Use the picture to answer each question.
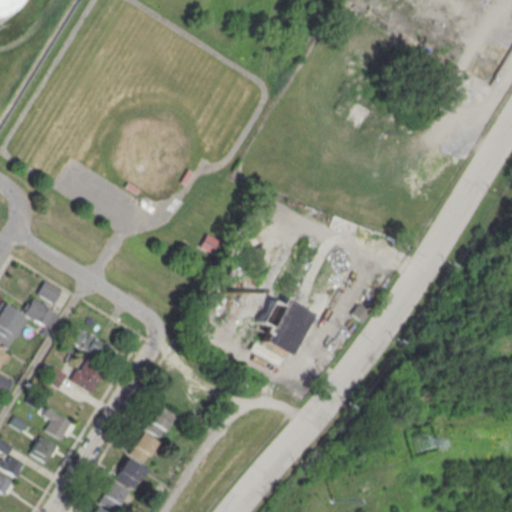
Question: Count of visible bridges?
none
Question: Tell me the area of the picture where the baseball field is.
top left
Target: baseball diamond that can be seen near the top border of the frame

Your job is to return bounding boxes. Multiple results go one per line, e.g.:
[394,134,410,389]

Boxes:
[8,0,262,201]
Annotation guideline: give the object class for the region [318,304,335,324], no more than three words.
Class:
vehicle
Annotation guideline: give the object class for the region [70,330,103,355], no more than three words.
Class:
house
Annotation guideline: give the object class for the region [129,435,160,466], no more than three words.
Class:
house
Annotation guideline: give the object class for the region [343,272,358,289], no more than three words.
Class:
work vehicle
